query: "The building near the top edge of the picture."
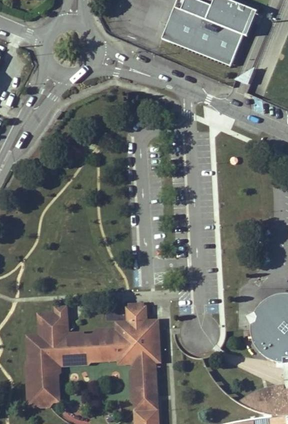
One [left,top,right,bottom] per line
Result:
[162,0,257,68]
